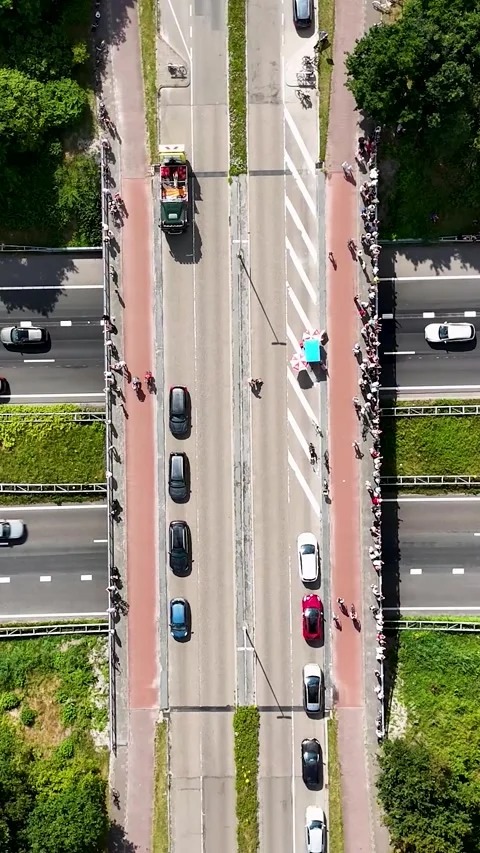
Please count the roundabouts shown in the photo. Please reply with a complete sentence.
There are no roundabouts in the image.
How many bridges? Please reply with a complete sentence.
The picture shows just 1 bridge.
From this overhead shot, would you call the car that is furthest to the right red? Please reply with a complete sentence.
No, from above the car that is furthest to the right looks white.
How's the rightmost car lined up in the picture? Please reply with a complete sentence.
Seen from above, the rightmost car lies from left to right.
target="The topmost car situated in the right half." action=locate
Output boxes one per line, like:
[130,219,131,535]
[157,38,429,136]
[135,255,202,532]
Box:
[292,0,313,29]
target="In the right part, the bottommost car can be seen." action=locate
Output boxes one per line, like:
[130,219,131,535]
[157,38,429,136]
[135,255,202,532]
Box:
[304,803,328,853]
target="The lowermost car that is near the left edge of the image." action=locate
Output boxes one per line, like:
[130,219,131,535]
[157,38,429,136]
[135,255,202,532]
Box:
[0,518,25,541]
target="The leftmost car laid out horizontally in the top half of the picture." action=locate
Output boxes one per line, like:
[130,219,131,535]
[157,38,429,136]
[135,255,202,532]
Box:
[2,326,48,348]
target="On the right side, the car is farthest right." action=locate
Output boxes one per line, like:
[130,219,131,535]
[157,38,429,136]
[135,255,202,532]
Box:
[425,322,475,346]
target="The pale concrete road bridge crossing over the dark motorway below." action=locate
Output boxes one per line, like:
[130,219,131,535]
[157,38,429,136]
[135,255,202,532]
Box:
[104,151,382,711]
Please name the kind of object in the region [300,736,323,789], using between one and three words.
car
